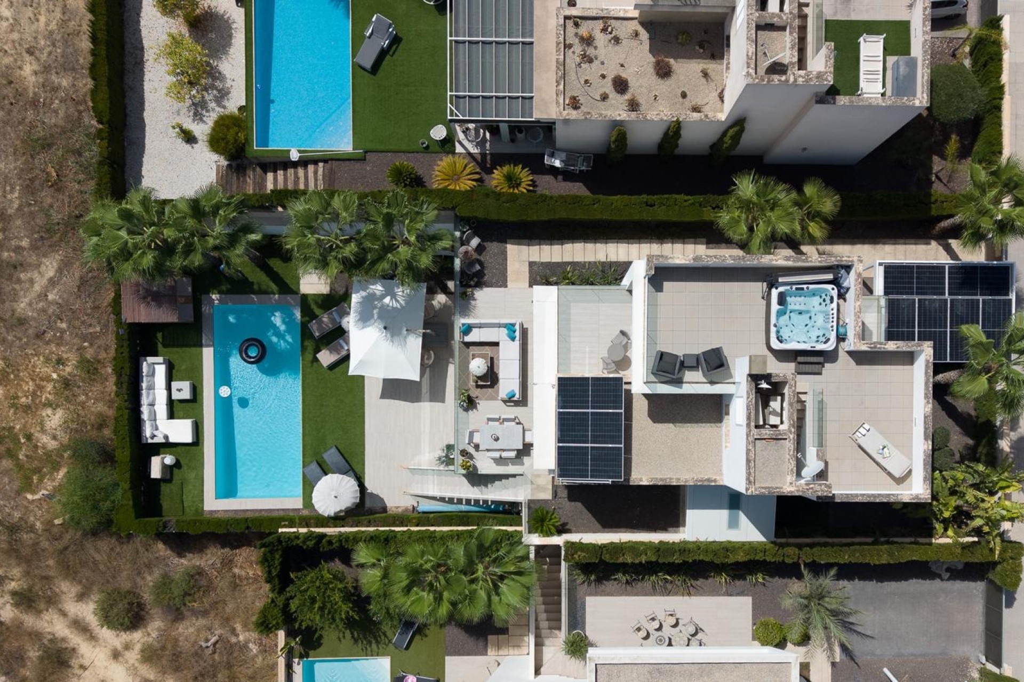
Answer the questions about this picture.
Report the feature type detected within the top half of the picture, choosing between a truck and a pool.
pool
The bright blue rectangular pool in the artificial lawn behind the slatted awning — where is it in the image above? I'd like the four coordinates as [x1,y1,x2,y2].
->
[254,0,352,149]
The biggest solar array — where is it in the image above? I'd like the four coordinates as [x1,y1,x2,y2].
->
[557,376,623,484]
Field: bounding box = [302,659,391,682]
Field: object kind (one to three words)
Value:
swimming pool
